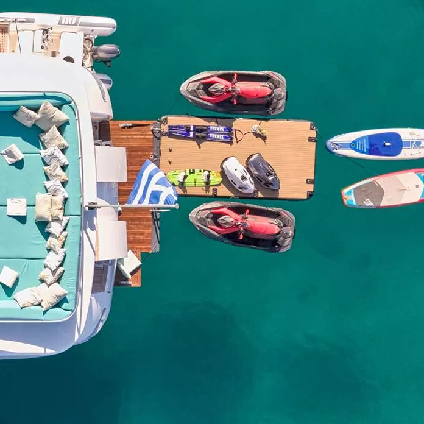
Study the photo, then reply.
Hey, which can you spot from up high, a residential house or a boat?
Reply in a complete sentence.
It is a boat that can be seen here.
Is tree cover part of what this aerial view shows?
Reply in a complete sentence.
No, there's no tree cover in this view.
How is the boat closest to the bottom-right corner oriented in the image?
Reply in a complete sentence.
I'd say the boat closest to the bottom-right corner is aligned from left to right in the picture.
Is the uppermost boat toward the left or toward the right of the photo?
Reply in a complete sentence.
It is on the left.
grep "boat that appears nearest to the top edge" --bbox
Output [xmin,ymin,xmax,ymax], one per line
[0,11,121,89]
